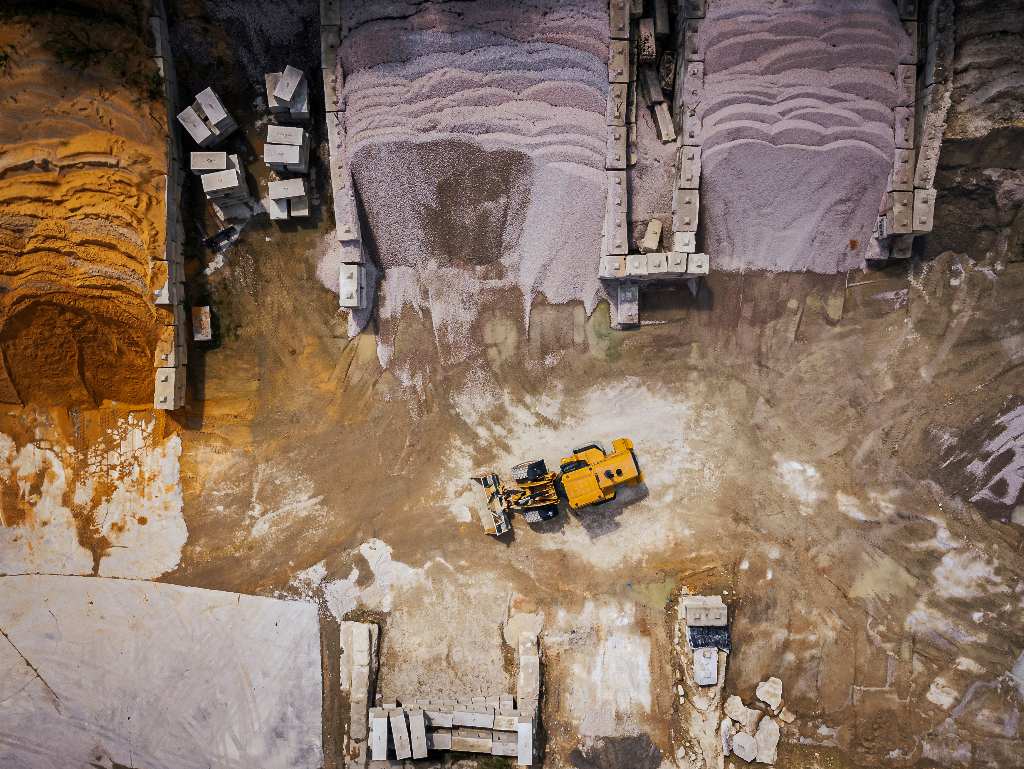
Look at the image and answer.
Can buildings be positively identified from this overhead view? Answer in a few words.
No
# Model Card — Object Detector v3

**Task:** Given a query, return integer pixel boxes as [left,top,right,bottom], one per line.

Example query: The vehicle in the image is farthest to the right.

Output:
[468,436,645,532]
